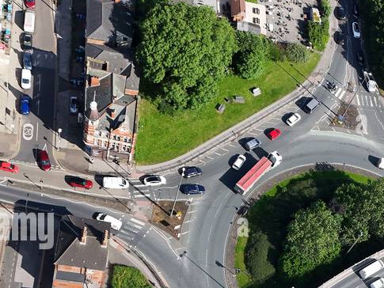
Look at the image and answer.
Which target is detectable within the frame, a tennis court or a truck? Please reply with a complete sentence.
The image shows a truck.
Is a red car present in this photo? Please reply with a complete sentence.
Yes, the picture does show a red car.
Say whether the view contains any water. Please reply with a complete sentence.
No, no water is visible.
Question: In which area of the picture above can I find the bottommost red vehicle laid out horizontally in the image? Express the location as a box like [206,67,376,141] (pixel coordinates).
[66,177,93,192]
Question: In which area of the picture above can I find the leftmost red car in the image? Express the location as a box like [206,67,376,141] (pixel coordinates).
[0,164,21,177]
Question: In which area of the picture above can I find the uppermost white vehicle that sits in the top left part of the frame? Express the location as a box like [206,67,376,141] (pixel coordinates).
[23,8,36,36]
